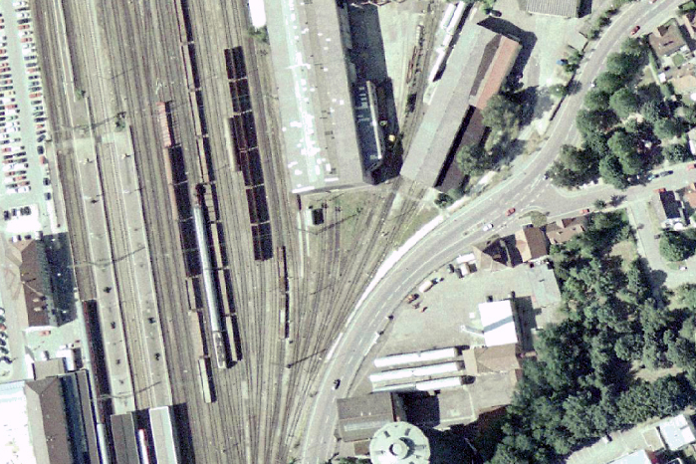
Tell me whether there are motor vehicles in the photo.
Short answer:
Yes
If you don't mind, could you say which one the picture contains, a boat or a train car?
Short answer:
train car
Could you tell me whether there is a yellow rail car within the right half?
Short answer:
No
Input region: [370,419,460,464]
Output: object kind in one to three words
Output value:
water tower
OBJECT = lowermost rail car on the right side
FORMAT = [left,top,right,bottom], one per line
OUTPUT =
[428,51,446,81]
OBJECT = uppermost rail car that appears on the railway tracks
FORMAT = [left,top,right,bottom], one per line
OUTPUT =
[175,0,191,43]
